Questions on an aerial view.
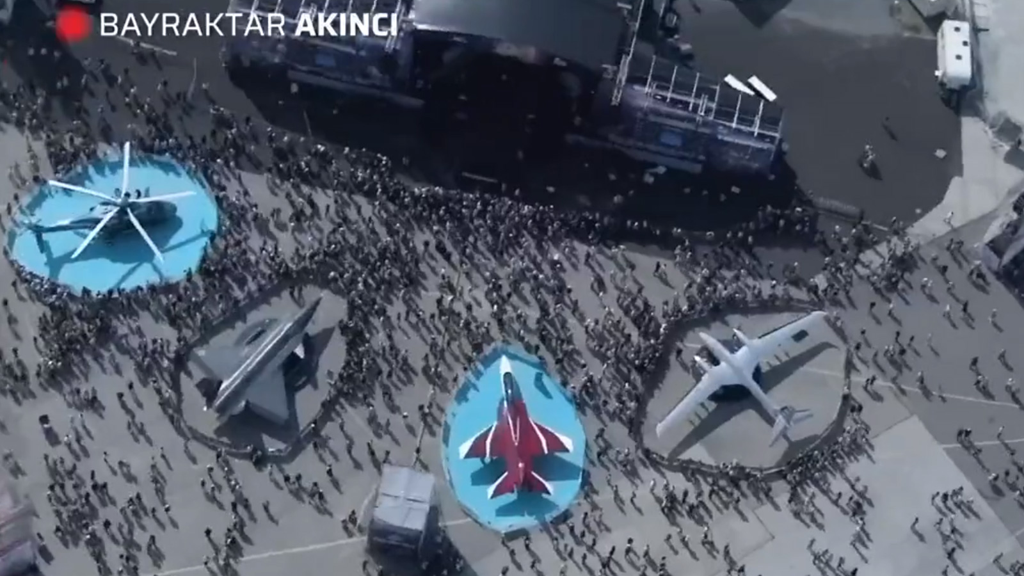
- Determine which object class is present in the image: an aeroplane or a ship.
aeroplane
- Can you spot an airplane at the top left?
No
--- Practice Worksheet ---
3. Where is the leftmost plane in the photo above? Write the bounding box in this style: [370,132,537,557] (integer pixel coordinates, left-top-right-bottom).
[189,297,322,426]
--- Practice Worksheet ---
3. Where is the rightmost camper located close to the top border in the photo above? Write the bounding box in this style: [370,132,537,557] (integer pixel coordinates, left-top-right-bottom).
[929,21,970,109]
